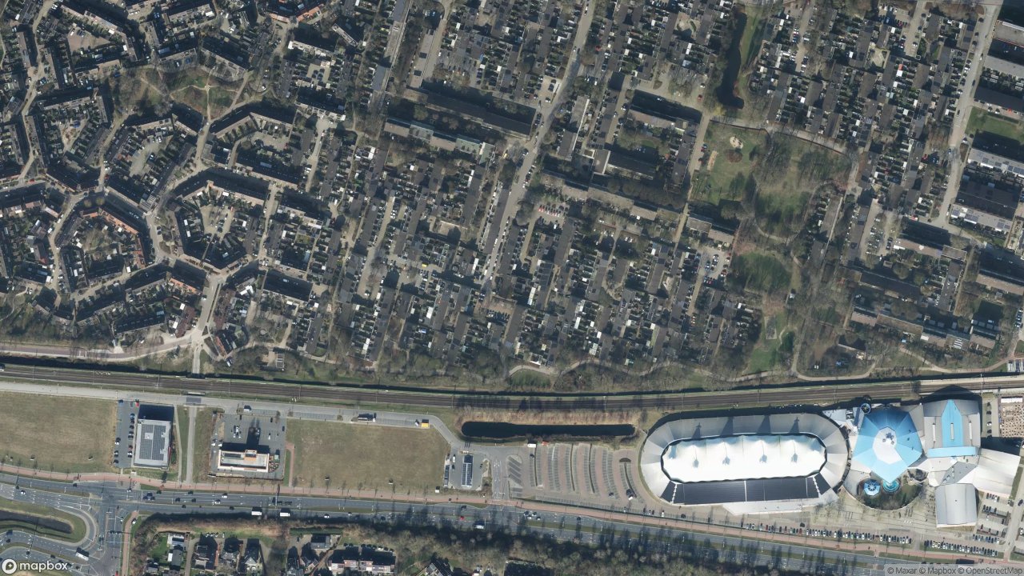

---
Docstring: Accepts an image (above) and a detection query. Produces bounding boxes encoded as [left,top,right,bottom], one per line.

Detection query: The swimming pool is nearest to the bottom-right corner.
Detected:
[882,479,900,493]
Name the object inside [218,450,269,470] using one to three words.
building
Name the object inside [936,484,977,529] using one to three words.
building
